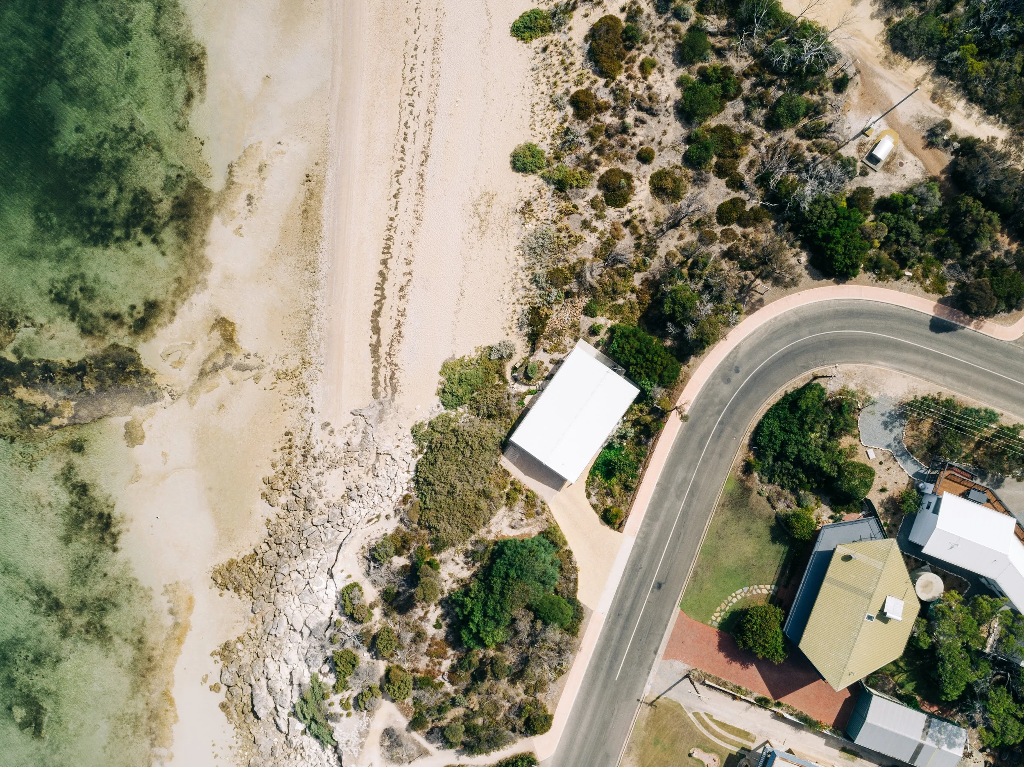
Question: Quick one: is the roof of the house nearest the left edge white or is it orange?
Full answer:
In this view, the roof of the house nearest the left edge is white.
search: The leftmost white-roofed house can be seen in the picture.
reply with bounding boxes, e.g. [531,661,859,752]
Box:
[510,338,641,484]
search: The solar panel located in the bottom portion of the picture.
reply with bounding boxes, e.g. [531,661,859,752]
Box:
[876,588,908,623]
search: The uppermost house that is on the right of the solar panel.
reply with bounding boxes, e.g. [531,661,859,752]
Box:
[901,458,1024,623]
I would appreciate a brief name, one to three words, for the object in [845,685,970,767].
shed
